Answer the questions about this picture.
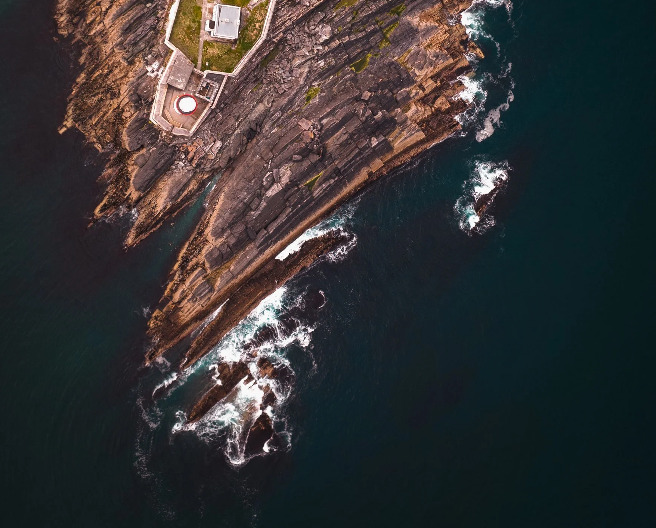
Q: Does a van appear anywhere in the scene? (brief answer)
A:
No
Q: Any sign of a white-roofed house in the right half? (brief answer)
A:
No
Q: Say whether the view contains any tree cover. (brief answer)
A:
No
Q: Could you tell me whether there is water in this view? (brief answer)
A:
Yes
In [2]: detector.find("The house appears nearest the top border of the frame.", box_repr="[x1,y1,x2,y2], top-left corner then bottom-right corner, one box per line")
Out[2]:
[204,3,241,41]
